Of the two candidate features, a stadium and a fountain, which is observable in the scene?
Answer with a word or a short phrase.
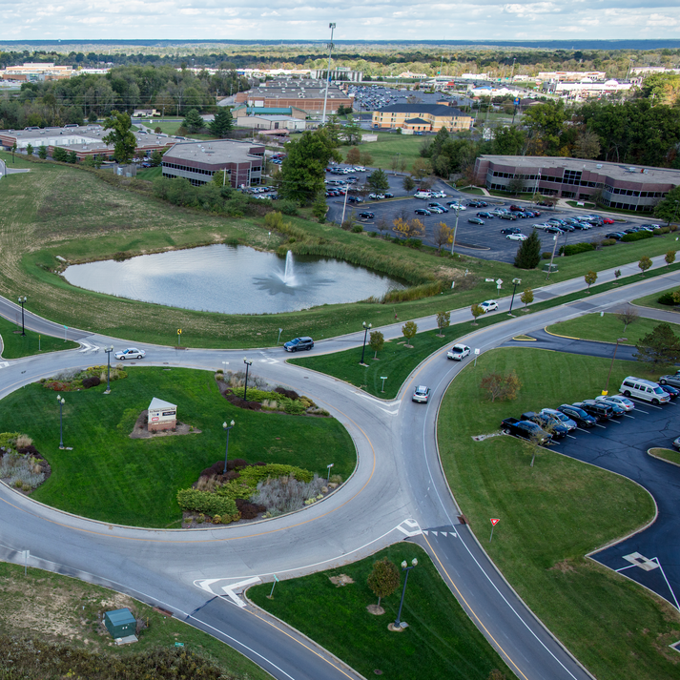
fountain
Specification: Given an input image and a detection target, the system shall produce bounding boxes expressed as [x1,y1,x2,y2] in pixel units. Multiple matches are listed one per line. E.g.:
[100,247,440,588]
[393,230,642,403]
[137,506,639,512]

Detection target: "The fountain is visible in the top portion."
[266,246,315,291]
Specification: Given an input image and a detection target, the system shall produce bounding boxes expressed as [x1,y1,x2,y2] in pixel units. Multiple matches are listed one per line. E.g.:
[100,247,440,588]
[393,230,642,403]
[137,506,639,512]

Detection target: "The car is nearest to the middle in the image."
[283,333,315,350]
